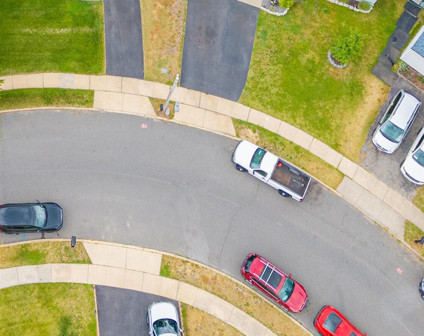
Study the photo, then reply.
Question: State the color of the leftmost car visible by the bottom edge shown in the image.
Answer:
white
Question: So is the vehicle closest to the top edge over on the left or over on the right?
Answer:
right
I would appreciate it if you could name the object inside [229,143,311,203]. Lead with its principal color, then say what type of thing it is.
white truck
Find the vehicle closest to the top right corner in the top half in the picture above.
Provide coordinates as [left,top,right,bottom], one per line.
[372,87,424,156]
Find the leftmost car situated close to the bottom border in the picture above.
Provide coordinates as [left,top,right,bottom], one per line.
[146,297,182,336]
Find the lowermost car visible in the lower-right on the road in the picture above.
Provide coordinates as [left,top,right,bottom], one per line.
[307,296,373,336]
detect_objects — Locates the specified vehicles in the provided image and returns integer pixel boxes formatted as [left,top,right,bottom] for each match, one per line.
[146,297,182,336]
[229,143,311,203]
[235,248,310,317]
[399,128,424,189]
[372,87,424,156]
[307,296,373,336]
[0,199,62,233]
